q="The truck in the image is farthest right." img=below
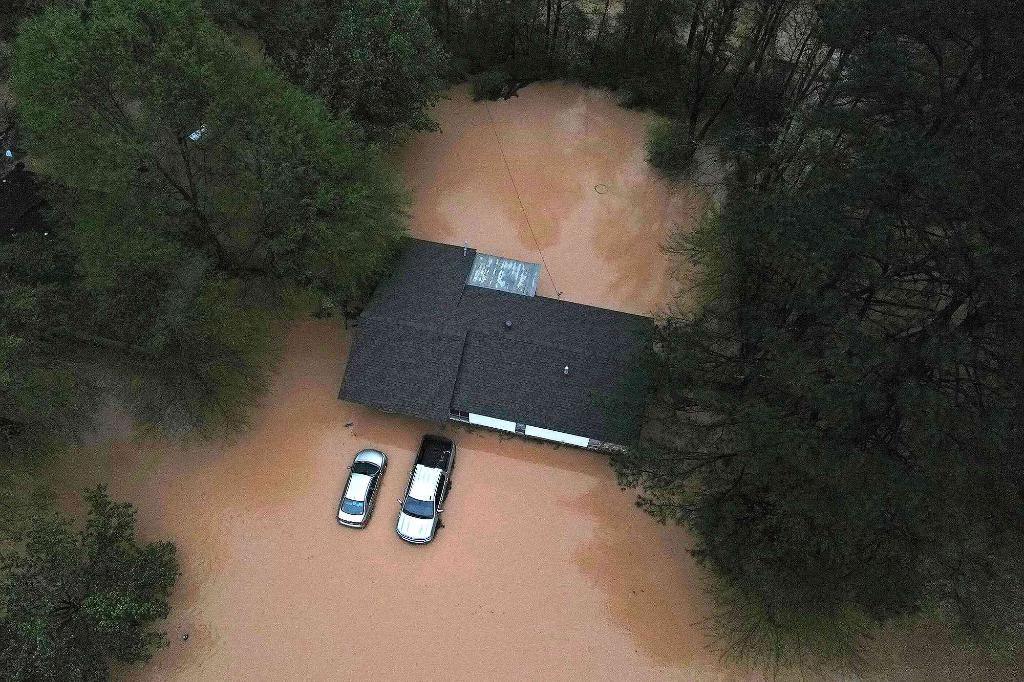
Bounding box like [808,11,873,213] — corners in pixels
[397,434,458,546]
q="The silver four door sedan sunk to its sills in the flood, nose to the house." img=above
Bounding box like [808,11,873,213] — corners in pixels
[335,446,385,533]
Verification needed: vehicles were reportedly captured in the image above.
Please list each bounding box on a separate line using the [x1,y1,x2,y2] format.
[397,434,458,546]
[335,446,385,533]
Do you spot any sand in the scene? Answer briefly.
No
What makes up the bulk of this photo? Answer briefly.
trees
